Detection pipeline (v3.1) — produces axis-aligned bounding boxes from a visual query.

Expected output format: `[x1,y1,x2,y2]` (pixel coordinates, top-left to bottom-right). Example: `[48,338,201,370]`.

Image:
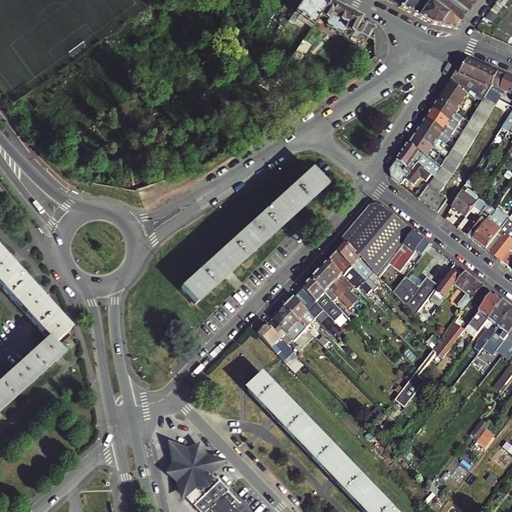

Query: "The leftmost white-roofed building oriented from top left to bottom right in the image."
[0,242,75,342]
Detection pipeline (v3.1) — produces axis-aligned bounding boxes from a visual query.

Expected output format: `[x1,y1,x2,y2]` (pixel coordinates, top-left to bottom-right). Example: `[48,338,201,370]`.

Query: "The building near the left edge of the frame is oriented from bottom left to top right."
[0,334,67,413]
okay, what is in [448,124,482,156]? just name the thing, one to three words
building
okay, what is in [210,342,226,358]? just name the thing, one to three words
vehicle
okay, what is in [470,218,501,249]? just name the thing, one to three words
house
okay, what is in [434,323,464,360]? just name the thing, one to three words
shed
